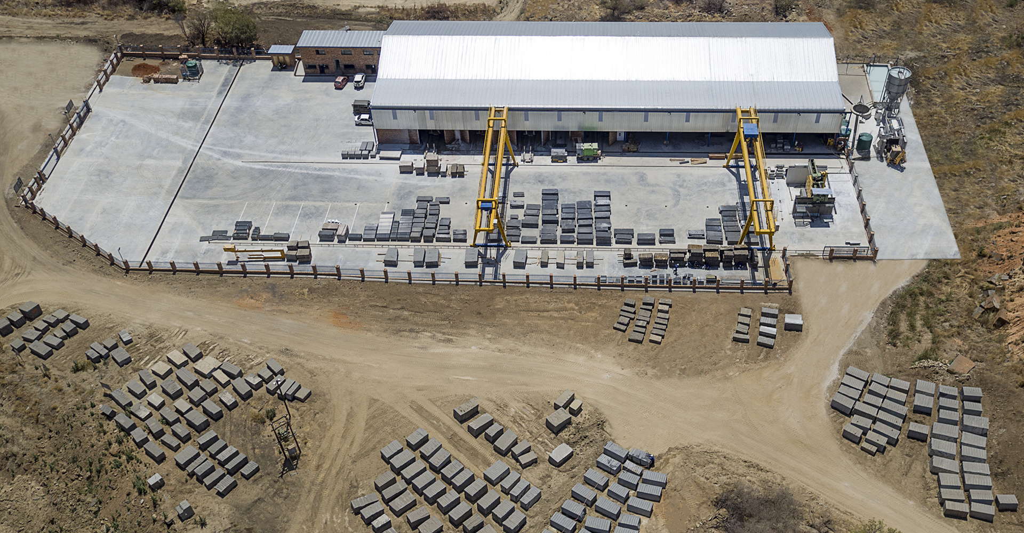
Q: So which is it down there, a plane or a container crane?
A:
container crane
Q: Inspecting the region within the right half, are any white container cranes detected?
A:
No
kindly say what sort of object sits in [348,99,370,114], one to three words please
car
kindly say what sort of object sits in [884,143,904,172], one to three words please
work vehicle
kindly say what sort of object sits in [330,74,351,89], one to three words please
car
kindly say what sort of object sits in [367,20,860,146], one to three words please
shed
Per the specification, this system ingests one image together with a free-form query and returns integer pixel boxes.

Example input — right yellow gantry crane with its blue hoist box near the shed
[725,107,779,247]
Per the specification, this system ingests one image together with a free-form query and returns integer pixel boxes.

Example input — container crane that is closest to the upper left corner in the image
[470,108,520,247]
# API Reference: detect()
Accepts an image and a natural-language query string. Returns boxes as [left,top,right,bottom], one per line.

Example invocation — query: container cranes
[470,108,520,247]
[725,107,779,247]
